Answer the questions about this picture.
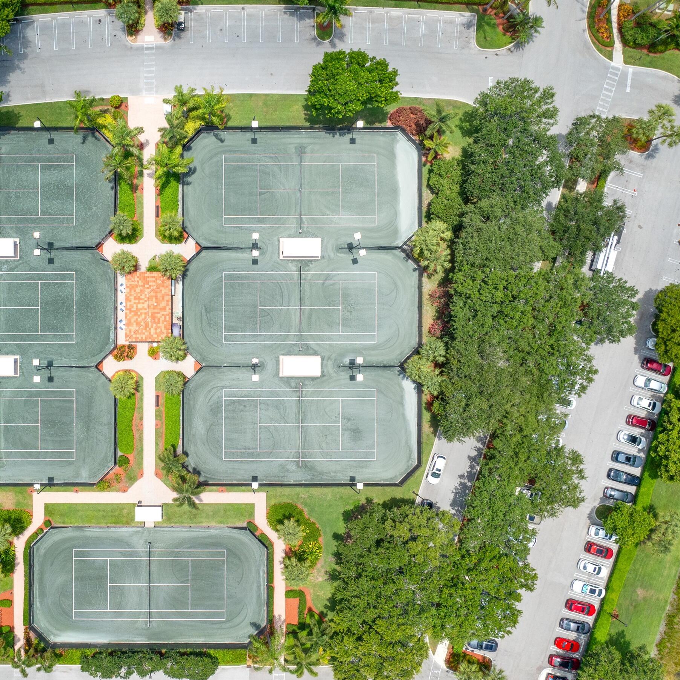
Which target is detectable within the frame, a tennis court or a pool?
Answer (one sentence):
Looking from above, you can make out a tennis court.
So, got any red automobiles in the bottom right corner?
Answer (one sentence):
Yes, a red automobile shows up in the bottom right corner.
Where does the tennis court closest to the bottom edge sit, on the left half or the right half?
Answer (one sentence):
The tennis court closest to the bottom edge appears in the left half of the scene.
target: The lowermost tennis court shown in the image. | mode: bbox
[33,529,265,641]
